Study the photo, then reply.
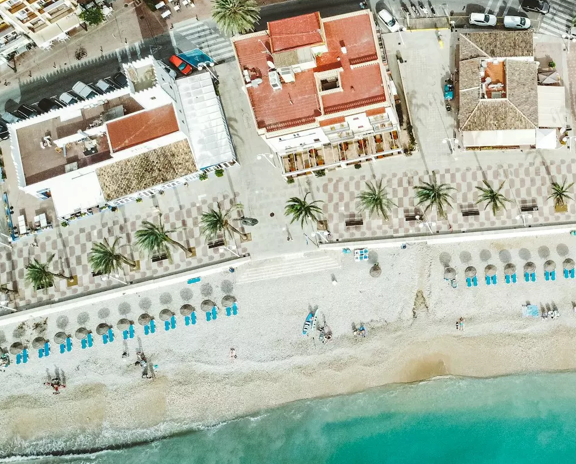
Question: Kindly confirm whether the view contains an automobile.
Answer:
Yes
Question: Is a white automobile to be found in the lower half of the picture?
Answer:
No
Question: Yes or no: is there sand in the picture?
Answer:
Yes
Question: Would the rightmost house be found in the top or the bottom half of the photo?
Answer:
top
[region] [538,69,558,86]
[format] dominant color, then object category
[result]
white umbrella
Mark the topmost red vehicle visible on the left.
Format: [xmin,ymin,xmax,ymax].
[170,54,192,75]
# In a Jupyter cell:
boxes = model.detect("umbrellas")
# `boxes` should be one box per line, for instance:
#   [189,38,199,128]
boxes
[203,300,215,312]
[524,261,536,273]
[15,342,27,355]
[223,294,236,307]
[141,313,153,326]
[368,263,383,278]
[503,263,516,276]
[484,264,497,277]
[538,69,558,86]
[76,327,89,339]
[97,322,111,336]
[563,258,575,270]
[161,308,174,321]
[182,304,194,316]
[55,331,68,345]
[537,129,556,148]
[464,267,477,278]
[0,346,8,358]
[444,267,457,280]
[544,260,556,272]
[35,337,47,349]
[118,318,132,330]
